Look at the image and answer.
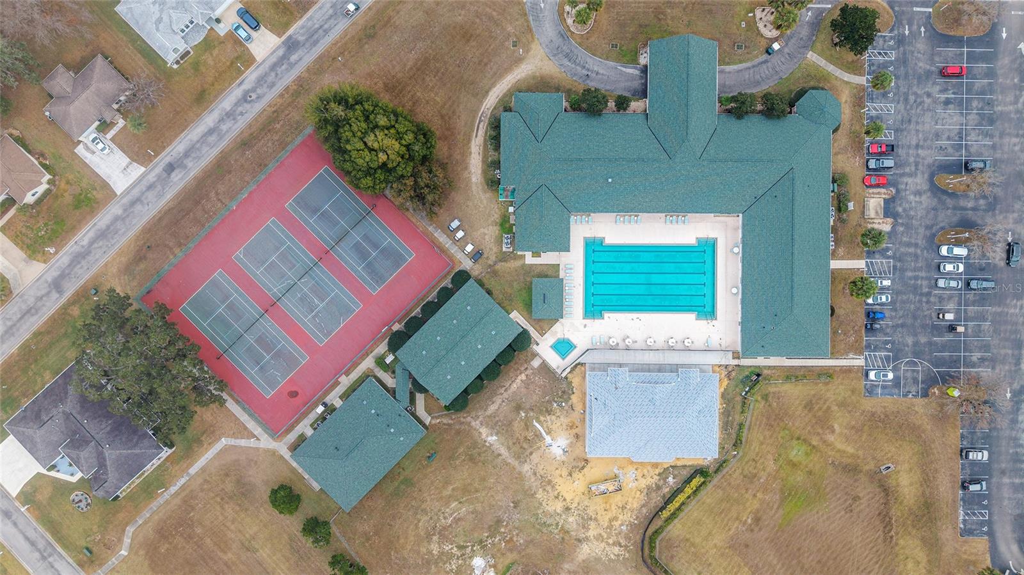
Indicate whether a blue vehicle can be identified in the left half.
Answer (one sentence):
Yes, the scene does show a blue vehicle in the left half.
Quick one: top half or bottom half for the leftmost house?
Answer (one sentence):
Seen from above, the leftmost house lies in the top half of the view.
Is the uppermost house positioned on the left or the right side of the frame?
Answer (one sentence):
It is on the left.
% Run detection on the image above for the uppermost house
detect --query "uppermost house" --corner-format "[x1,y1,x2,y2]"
[114,0,239,68]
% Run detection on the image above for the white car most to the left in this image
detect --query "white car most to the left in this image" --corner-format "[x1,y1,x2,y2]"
[88,132,112,155]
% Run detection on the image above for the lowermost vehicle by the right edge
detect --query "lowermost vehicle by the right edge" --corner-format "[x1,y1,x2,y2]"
[961,480,986,492]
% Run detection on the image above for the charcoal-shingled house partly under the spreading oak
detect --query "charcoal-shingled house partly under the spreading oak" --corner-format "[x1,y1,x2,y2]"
[3,362,167,502]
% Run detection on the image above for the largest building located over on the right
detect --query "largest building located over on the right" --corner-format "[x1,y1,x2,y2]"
[500,34,842,358]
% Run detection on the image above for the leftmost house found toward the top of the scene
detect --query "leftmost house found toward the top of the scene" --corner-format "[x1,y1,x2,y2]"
[0,126,56,205]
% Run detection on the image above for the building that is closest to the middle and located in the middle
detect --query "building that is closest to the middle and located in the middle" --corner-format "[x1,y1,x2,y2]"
[532,278,563,319]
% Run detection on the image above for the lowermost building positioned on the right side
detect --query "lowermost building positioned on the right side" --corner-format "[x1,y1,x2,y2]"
[586,368,719,461]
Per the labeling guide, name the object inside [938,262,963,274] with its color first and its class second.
white vehicle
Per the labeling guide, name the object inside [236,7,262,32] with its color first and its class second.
blue car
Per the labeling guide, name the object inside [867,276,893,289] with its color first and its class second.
white vehicle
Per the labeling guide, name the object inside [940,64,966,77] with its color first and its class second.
red vehicle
